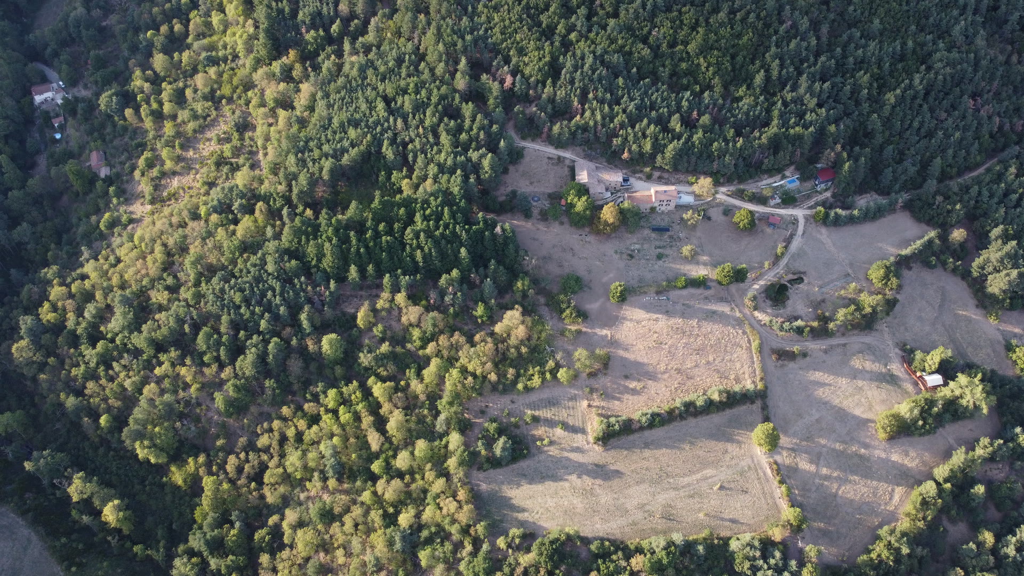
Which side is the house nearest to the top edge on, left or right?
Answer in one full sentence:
The house nearest to the top edge is on the left side of the image.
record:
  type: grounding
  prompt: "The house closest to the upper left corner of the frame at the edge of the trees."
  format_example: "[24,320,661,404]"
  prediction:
[32,88,66,111]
